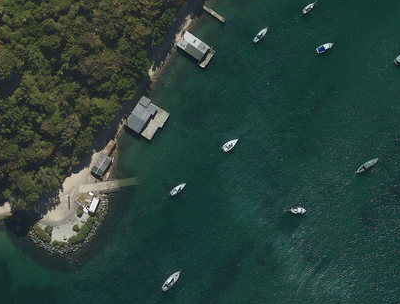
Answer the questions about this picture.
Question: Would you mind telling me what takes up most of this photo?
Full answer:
Most of the picture is covered by water.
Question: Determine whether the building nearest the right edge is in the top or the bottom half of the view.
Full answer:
The top half of the photo is where the building nearest the right edge is.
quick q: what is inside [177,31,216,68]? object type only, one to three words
building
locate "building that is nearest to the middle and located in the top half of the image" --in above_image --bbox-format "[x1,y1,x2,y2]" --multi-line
[126,96,170,140]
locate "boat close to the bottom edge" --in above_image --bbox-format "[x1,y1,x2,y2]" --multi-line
[162,269,182,292]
